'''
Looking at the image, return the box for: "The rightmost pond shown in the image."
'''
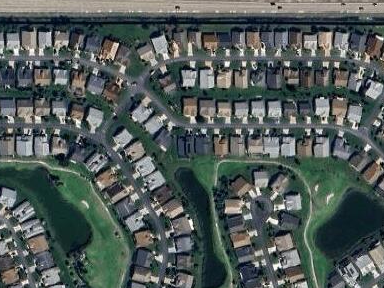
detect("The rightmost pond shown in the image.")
[314,189,384,261]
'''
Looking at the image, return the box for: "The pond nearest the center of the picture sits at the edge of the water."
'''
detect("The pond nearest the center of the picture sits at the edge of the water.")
[175,168,228,288]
